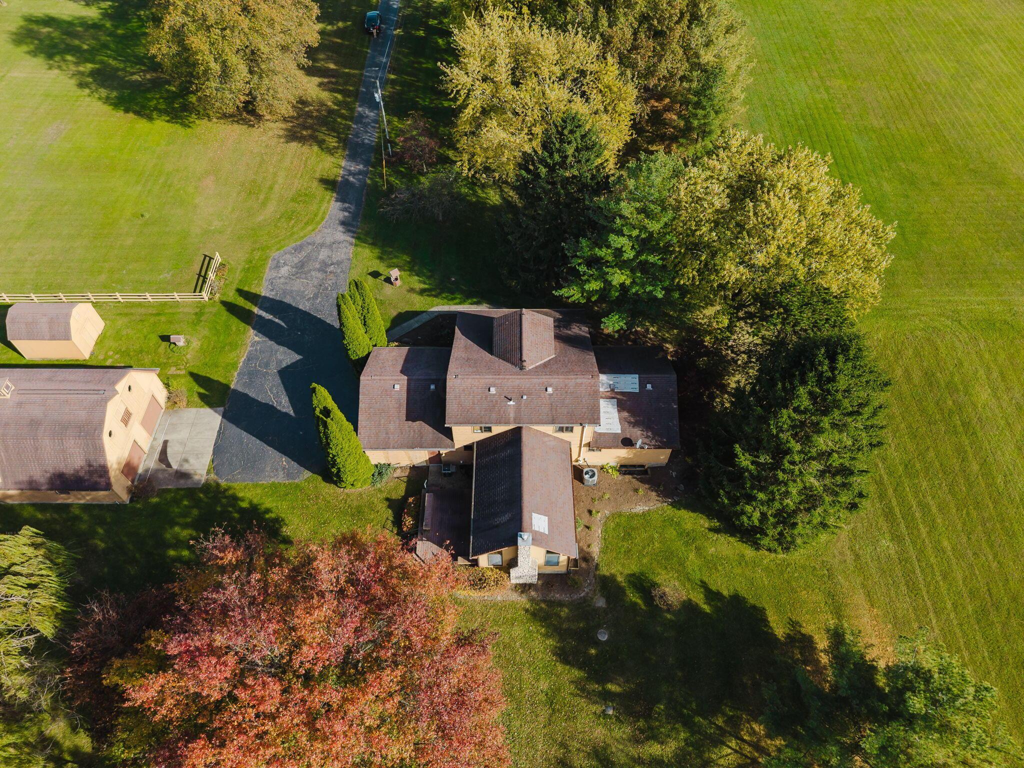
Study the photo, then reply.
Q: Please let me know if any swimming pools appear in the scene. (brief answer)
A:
No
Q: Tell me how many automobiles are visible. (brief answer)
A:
one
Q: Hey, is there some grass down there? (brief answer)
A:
Yes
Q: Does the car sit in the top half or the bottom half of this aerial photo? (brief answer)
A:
top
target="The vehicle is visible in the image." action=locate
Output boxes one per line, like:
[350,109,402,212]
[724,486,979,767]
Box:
[365,10,385,32]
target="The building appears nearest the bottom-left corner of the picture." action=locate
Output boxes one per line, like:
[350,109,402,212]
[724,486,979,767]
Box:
[0,368,171,505]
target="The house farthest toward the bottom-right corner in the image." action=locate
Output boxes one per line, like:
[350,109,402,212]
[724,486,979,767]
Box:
[358,309,679,583]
